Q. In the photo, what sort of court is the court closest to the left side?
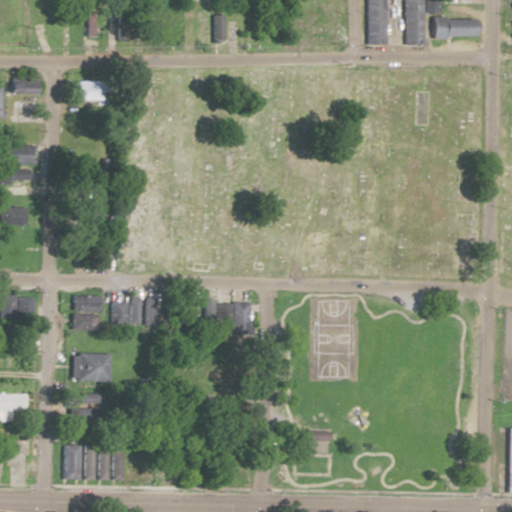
basketball court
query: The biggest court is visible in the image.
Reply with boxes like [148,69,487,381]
[310,298,358,381]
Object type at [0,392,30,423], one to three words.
building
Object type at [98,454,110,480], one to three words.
house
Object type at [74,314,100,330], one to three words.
house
